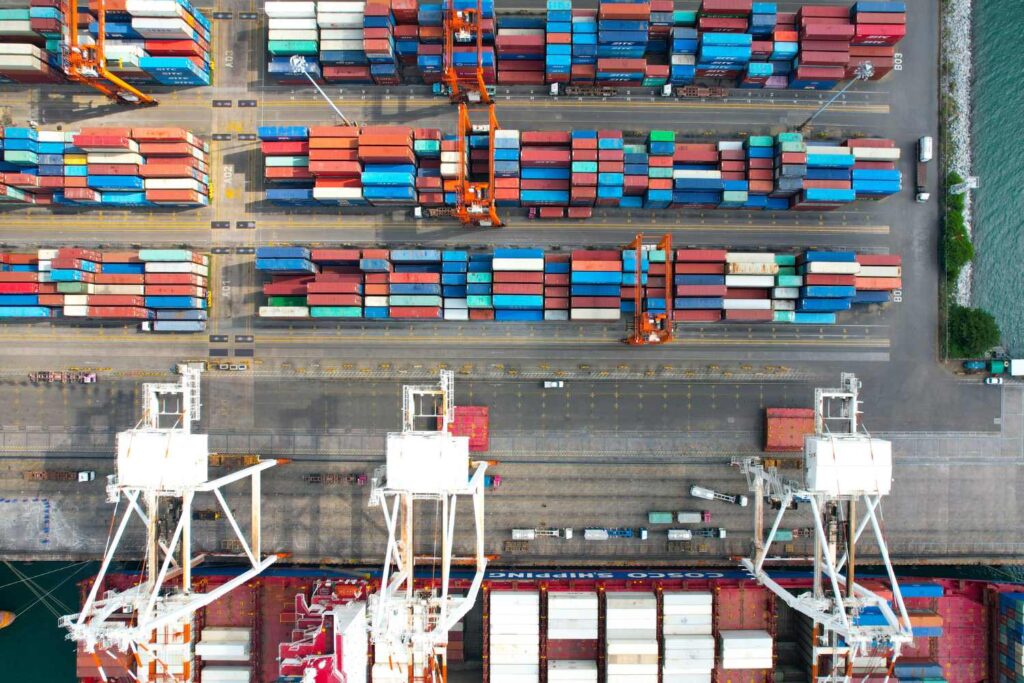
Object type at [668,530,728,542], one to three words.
vehicle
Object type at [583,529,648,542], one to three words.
vehicle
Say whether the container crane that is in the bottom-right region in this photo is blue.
No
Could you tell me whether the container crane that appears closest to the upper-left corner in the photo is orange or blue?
orange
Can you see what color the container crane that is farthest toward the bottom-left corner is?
white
